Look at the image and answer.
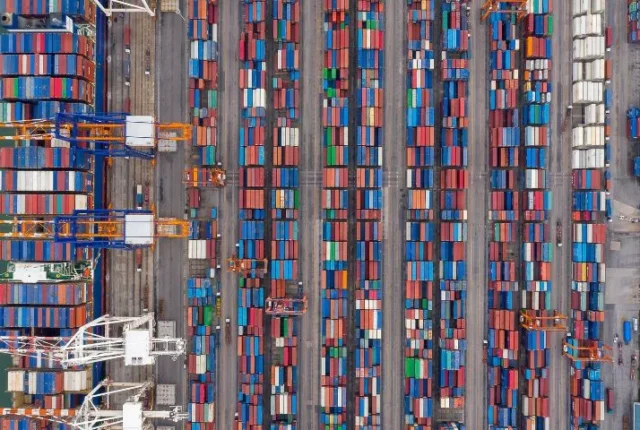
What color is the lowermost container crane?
white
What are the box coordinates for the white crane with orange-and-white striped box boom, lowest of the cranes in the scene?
[0,371,188,430]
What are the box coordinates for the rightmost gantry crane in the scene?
[558,334,613,362]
